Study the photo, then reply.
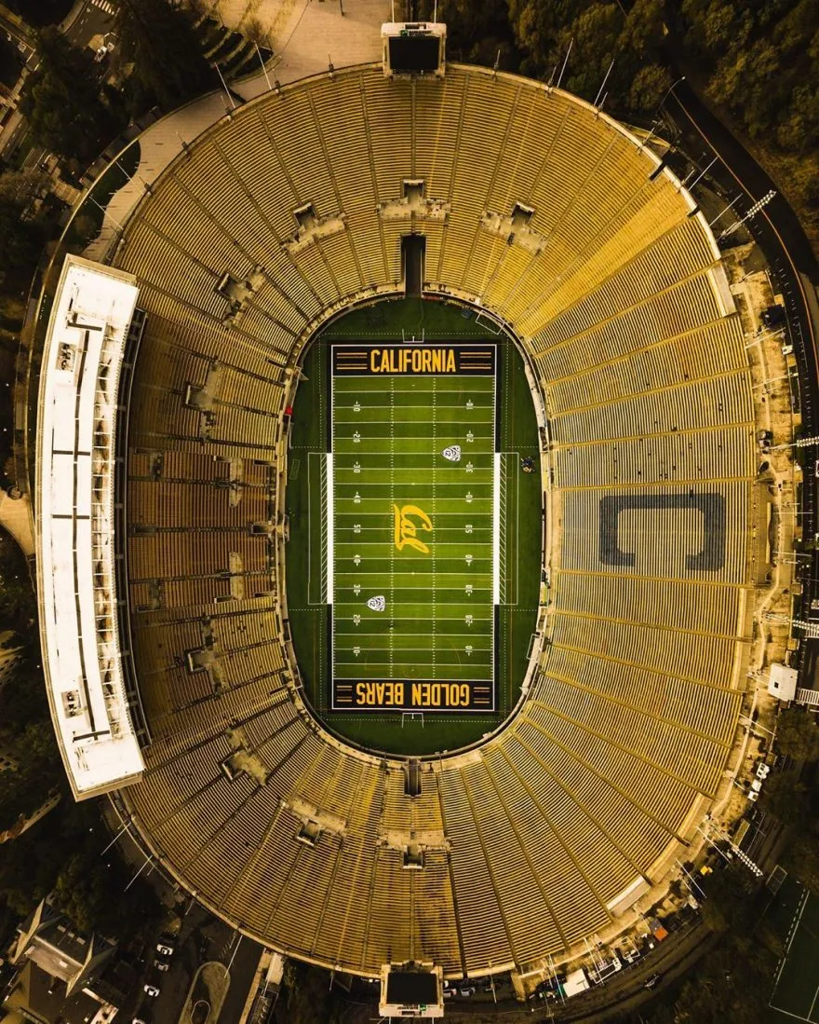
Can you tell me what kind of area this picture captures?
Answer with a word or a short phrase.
sports ground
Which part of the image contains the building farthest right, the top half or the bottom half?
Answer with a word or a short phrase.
bottom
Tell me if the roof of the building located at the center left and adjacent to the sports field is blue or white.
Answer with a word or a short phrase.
white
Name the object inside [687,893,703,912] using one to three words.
vehicle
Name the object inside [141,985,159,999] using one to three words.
car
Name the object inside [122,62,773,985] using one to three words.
stadium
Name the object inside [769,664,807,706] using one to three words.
building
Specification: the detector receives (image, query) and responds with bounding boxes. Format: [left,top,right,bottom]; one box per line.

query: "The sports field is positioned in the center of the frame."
[283,296,544,756]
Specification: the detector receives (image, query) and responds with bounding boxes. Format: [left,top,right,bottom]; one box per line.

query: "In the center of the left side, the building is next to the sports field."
[35,257,149,802]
